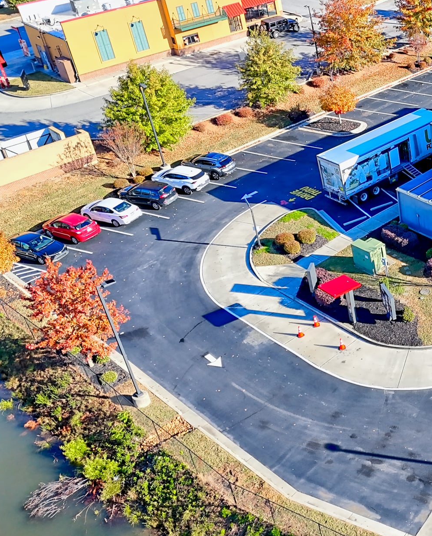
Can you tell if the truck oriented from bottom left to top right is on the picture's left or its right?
right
